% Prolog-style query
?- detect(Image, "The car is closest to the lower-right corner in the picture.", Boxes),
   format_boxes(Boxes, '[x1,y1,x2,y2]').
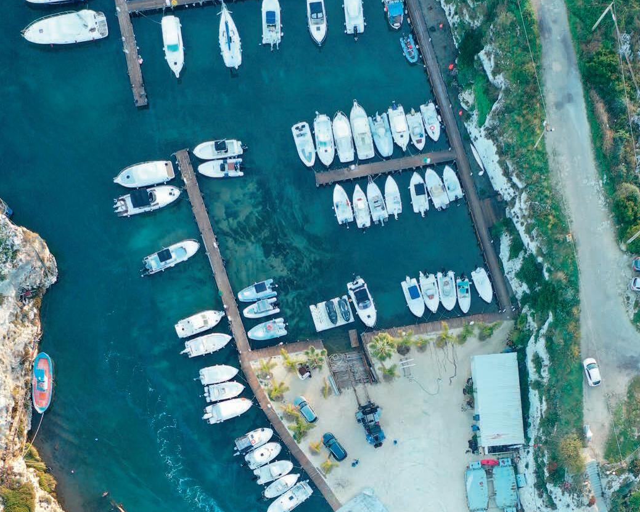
[580,358,603,389]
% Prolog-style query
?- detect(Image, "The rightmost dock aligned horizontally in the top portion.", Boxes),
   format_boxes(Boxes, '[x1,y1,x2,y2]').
[315,151,456,187]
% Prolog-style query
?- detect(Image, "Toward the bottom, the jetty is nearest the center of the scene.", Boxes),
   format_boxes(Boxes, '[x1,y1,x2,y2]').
[311,297,353,332]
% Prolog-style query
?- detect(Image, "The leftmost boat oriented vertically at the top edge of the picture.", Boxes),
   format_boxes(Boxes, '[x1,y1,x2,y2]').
[162,8,186,75]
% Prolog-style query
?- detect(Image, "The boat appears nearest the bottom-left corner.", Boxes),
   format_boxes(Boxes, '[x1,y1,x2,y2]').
[31,353,55,440]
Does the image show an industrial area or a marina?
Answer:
marina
